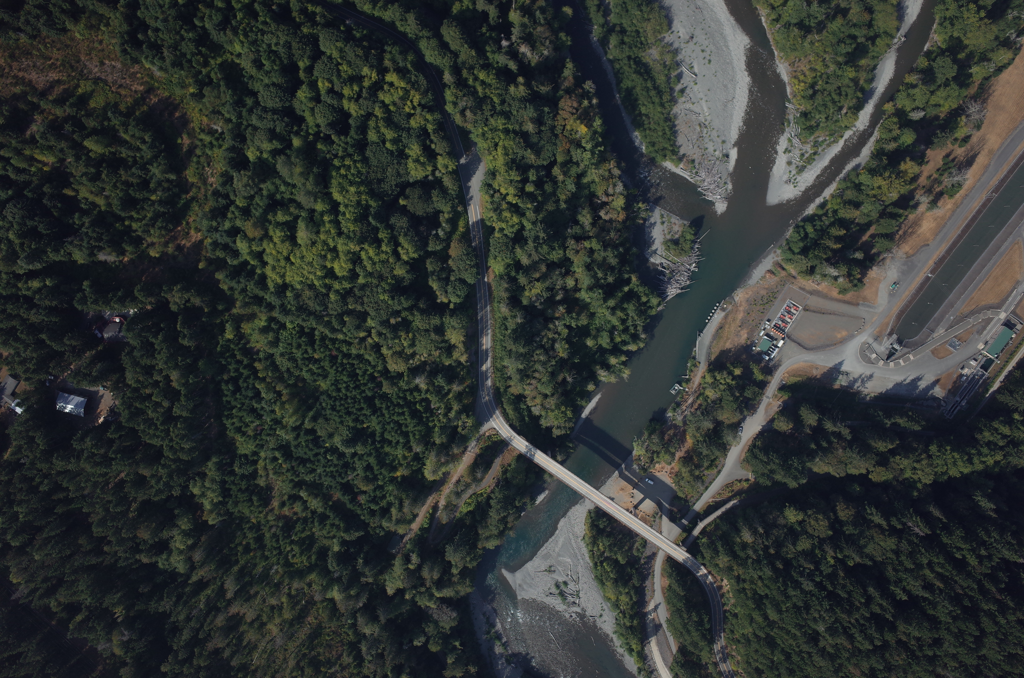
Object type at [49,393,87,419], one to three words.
barn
